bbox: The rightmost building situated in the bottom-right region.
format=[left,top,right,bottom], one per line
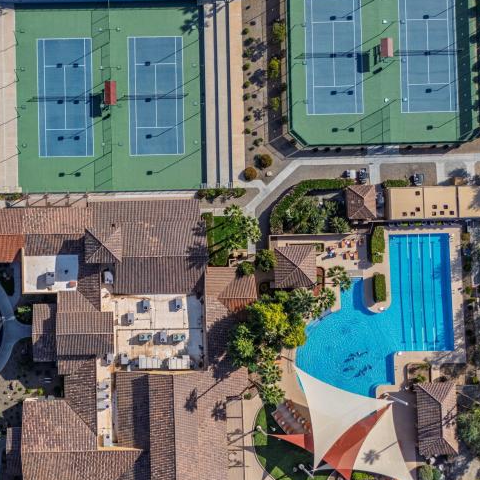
[409,382,459,457]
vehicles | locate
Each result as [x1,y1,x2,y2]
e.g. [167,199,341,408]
[410,173,421,186]
[356,168,367,181]
[346,167,356,180]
